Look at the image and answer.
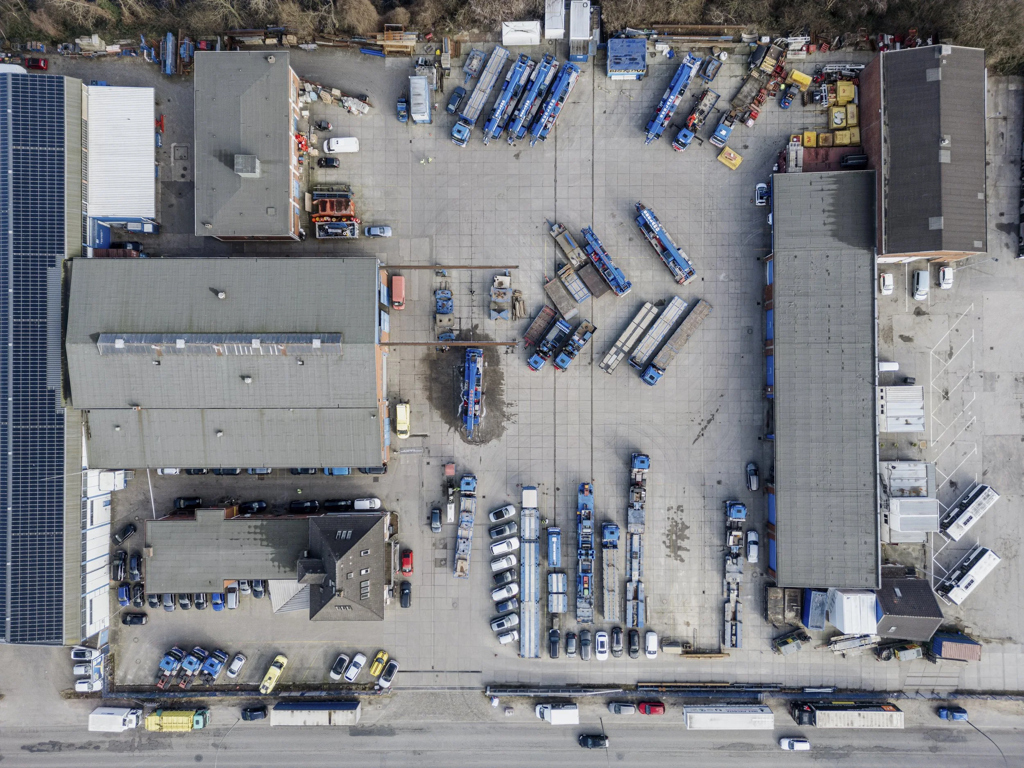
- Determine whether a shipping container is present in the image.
Yes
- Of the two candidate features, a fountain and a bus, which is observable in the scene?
bus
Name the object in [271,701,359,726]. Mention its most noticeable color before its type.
white trailer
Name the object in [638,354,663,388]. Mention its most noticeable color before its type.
blue truck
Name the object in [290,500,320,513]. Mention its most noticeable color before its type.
black vehicle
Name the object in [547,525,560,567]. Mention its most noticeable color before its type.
blue vehicle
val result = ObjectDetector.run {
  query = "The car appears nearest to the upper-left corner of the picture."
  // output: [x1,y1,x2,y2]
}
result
[25,56,50,71]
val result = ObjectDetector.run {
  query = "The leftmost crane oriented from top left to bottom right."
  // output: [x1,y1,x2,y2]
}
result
[580,228,630,297]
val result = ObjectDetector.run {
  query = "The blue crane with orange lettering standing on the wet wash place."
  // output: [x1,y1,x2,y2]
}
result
[460,349,483,438]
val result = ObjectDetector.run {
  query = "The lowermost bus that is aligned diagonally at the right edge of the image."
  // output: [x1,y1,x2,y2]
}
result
[939,545,1001,607]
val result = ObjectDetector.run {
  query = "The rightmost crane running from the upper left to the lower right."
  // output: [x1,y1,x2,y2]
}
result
[634,201,697,287]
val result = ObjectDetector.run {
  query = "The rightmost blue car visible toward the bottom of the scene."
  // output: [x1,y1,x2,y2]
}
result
[937,706,968,721]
